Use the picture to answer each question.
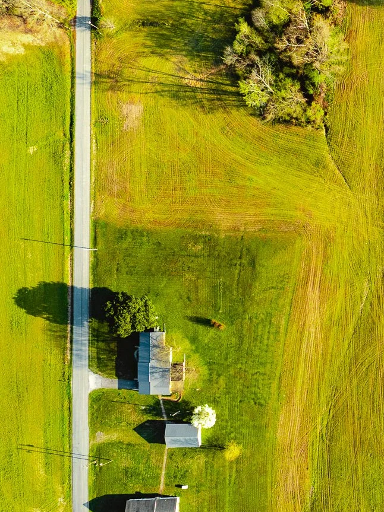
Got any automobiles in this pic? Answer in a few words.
No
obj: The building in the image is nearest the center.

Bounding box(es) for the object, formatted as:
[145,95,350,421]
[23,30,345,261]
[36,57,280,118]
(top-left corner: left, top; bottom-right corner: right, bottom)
[134,325,172,396]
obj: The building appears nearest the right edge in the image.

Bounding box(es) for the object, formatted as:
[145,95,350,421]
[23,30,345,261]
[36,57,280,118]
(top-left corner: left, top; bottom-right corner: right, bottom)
[163,423,202,447]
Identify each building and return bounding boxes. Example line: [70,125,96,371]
[134,325,172,396]
[163,423,202,447]
[125,495,182,512]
